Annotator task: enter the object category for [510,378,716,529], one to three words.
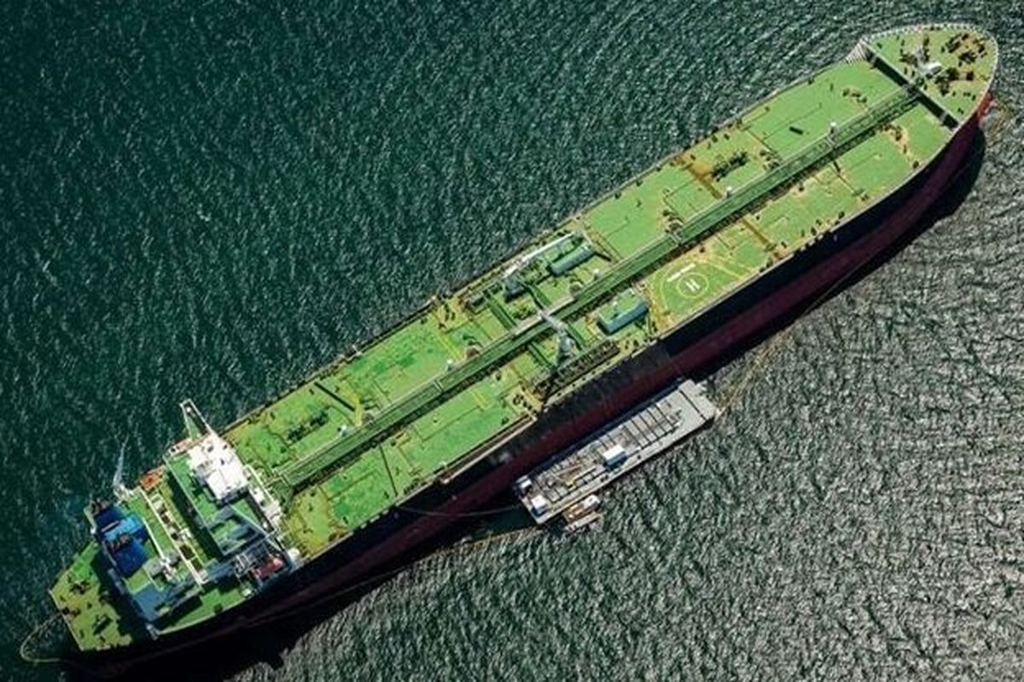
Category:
ship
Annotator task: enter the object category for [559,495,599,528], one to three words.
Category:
boat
